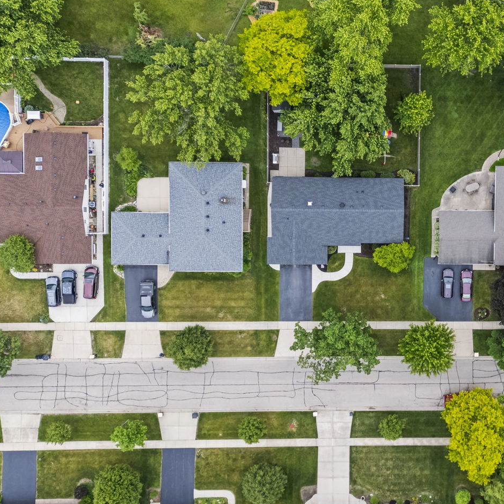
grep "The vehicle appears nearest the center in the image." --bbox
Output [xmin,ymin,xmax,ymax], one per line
[139,280,156,318]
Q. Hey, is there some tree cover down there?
Yes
